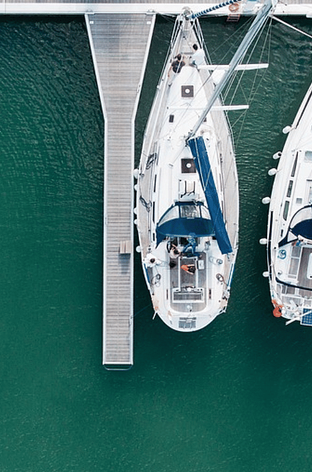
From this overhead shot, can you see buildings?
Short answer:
No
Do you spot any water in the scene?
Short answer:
Yes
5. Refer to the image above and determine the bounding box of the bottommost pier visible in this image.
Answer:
[86,12,155,371]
